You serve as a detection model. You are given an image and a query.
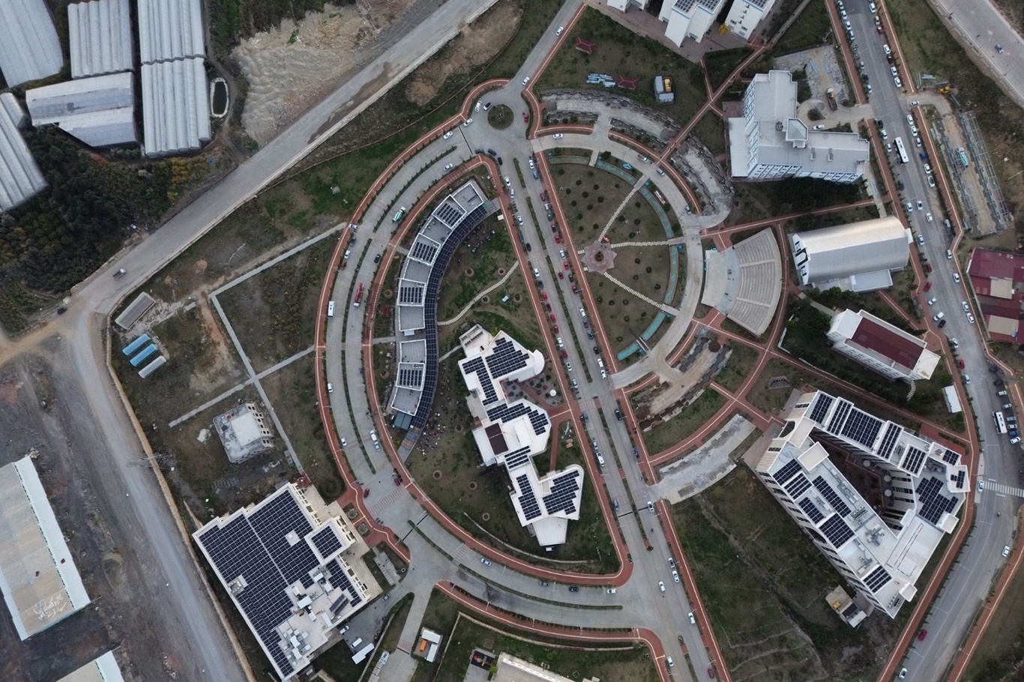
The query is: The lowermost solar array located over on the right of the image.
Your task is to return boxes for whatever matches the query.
[864,567,892,592]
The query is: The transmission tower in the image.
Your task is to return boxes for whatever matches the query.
[129,450,173,472]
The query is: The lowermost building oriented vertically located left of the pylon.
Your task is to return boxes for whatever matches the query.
[0,457,91,638]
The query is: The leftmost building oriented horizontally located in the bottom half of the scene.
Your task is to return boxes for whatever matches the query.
[51,649,133,682]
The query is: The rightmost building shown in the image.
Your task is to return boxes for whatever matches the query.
[962,247,1024,352]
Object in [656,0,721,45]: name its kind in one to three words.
building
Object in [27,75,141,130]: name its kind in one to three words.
greenhouse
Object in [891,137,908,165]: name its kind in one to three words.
vehicle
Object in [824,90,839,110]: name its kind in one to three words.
vehicle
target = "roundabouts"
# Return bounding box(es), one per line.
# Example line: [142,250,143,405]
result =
[478,95,523,138]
